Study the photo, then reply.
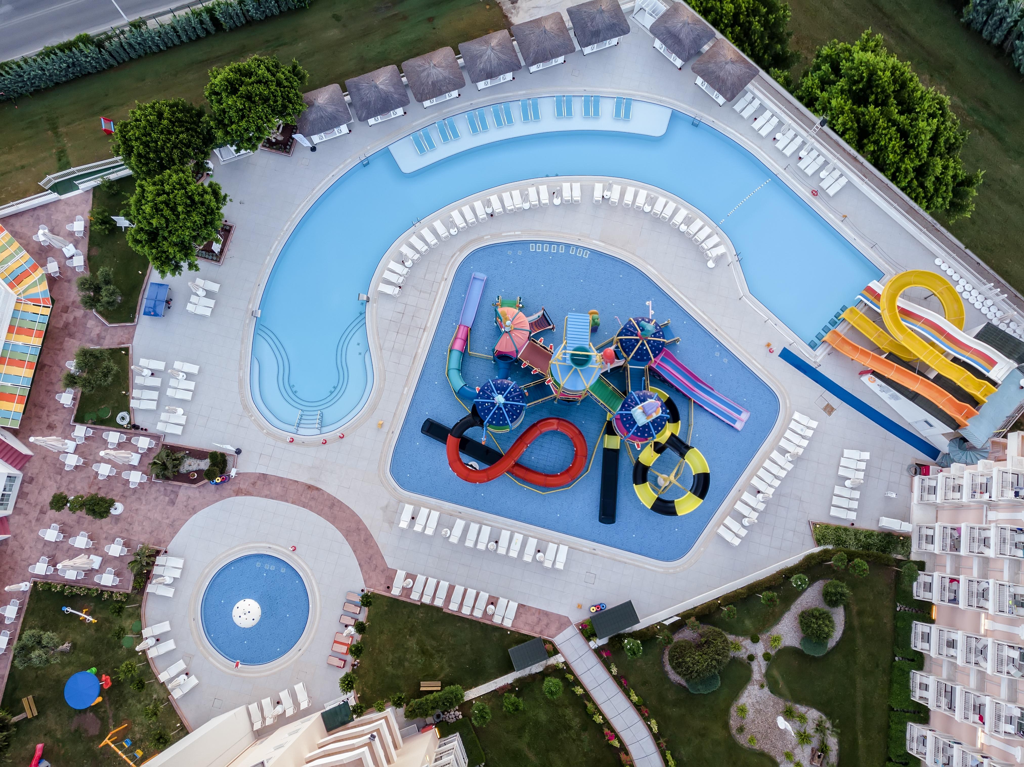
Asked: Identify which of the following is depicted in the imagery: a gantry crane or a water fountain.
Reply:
water fountain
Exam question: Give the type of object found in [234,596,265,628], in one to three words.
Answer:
fountain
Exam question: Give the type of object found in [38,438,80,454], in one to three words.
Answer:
umbrella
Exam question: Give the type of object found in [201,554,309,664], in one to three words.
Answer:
swimming pool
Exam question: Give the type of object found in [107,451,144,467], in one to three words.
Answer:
umbrella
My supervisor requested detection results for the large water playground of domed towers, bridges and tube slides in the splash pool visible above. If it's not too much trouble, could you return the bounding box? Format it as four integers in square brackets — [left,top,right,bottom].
[425,270,752,522]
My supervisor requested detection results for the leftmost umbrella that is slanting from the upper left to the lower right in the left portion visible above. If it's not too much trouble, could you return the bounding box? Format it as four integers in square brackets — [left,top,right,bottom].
[38,231,75,259]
